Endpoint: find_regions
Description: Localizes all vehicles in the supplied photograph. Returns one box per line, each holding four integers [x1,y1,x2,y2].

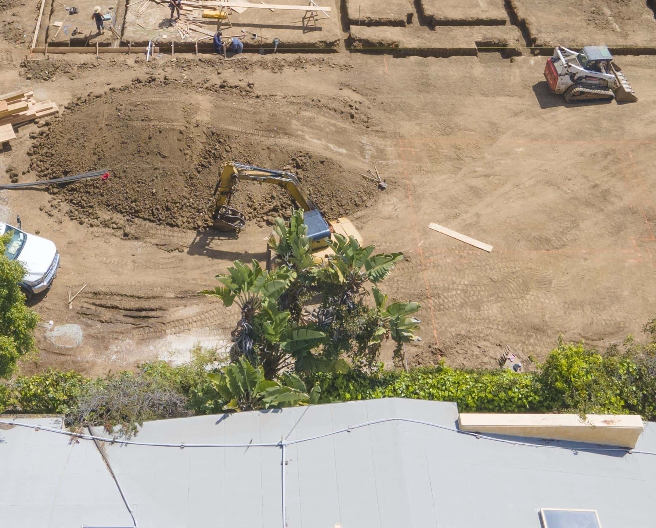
[205,157,371,288]
[0,214,62,299]
[543,42,645,110]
